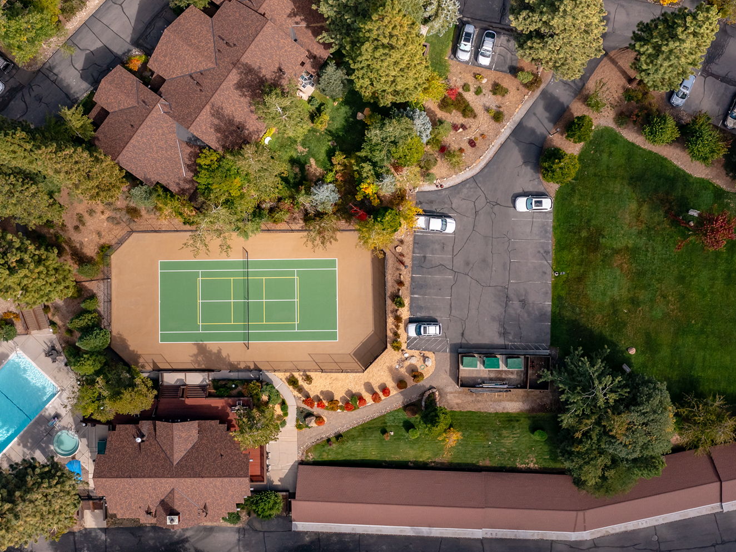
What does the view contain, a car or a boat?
car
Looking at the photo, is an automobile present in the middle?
Yes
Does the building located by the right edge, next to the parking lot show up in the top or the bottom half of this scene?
bottom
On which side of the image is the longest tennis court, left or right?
left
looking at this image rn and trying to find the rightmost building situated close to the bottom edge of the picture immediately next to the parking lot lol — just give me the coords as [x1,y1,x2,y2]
[483,445,722,541]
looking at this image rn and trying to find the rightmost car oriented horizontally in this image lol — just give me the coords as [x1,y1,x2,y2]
[515,194,553,213]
